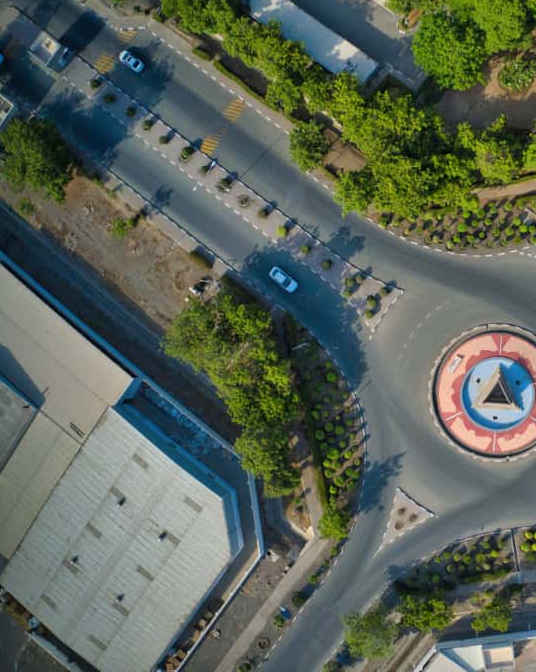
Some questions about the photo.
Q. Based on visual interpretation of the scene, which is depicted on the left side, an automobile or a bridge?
automobile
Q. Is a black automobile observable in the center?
No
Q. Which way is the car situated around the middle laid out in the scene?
at an angle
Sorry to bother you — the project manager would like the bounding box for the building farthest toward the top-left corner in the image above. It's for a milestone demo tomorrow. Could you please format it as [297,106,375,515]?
[30,32,72,72]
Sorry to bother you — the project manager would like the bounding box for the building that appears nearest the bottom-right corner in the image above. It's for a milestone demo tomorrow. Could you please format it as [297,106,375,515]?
[484,641,516,669]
